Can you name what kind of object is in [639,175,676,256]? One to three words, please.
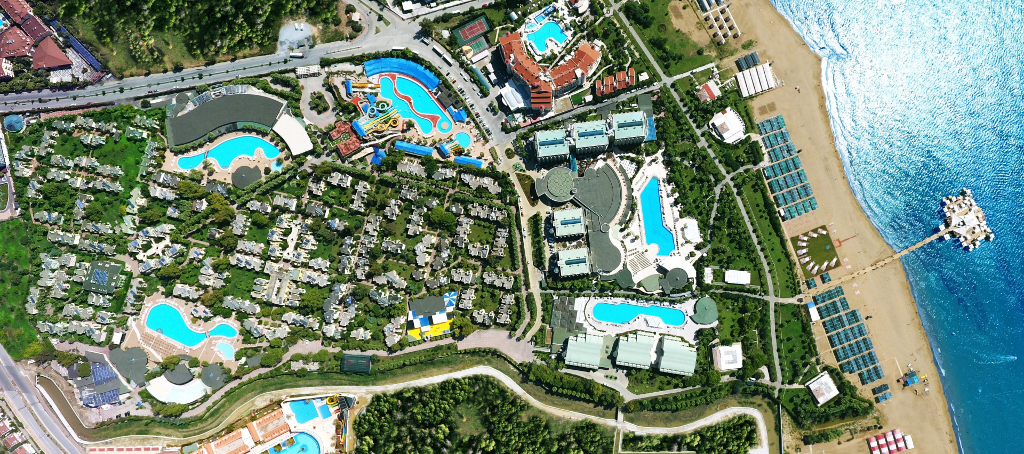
swimming pool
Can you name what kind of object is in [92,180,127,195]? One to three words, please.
house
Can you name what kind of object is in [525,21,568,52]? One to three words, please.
swimming pool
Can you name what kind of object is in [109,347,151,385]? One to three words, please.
building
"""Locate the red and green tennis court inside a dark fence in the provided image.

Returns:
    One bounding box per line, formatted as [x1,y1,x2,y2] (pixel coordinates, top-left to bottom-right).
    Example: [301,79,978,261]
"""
[452,13,493,46]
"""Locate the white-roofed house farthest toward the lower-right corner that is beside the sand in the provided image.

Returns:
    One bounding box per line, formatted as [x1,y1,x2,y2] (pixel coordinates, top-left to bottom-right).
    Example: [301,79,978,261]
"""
[804,372,839,406]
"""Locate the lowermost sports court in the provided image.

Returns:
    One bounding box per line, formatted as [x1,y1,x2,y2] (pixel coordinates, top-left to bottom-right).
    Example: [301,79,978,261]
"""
[340,355,371,374]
